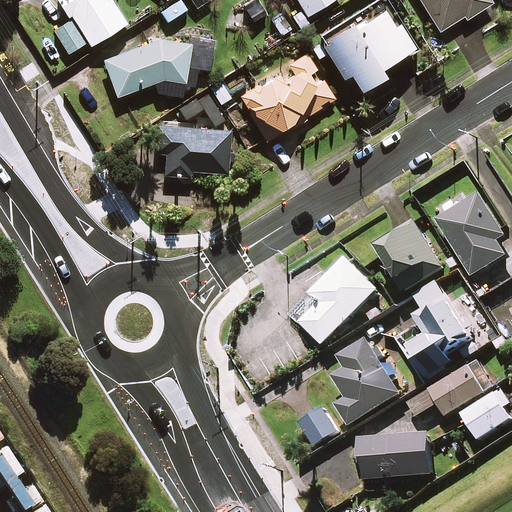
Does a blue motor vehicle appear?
Yes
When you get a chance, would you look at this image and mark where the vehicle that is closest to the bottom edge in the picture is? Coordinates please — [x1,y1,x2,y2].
[148,398,166,422]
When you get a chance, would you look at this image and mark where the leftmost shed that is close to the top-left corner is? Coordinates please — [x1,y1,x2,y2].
[54,21,86,54]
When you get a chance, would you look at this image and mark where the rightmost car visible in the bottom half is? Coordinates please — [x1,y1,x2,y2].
[365,322,385,338]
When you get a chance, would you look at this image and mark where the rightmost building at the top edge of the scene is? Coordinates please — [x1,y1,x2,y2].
[421,0,494,32]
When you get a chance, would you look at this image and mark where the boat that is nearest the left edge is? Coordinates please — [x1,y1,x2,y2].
[44,36,58,60]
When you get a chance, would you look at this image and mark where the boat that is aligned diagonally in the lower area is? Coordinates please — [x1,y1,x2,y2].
[498,321,512,337]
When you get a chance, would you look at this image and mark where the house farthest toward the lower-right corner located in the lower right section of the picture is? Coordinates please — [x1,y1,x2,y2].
[458,388,512,440]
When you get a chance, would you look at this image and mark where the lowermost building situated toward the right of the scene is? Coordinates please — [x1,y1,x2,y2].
[354,430,435,480]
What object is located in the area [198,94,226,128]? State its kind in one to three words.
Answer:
building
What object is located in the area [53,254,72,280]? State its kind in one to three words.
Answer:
car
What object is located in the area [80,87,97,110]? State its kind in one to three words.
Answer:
car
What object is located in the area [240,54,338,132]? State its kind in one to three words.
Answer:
house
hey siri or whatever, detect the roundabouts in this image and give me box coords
[94,281,176,362]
